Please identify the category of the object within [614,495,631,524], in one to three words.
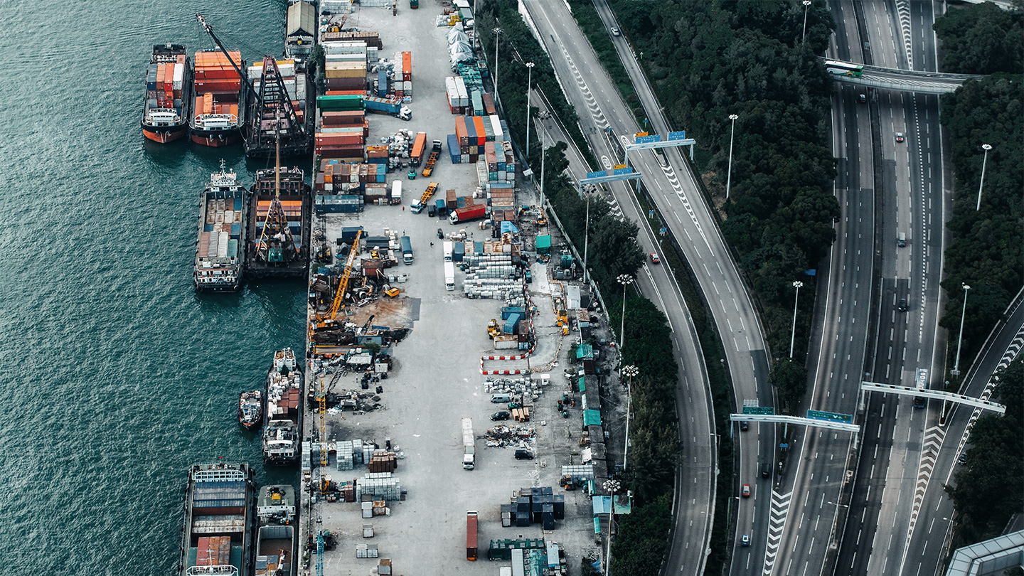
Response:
shed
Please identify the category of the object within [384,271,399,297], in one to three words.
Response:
work vehicle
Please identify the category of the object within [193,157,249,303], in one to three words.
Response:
ship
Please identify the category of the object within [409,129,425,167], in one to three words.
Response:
vehicle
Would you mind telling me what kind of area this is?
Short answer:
port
